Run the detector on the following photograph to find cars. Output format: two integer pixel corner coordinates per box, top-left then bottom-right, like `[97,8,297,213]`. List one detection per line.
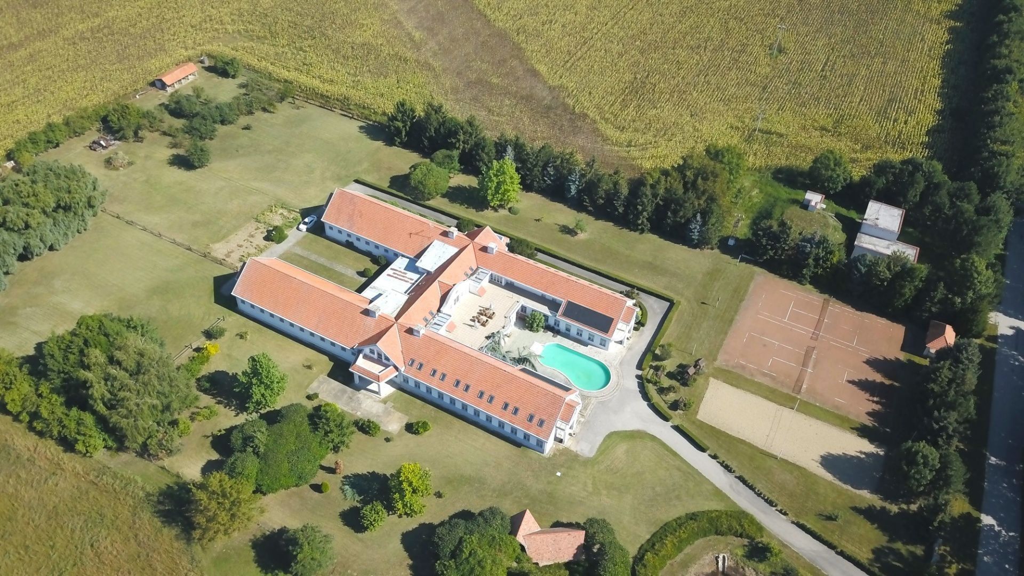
[298,214,317,228]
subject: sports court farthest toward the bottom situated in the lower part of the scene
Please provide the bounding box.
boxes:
[697,378,887,499]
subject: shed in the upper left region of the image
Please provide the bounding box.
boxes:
[155,62,201,94]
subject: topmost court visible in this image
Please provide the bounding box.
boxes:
[722,274,907,425]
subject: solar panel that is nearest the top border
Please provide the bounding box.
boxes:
[562,299,614,332]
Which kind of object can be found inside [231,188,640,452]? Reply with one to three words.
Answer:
building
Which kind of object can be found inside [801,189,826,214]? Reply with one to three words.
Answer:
building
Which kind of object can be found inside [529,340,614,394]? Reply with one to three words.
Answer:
swimming pool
